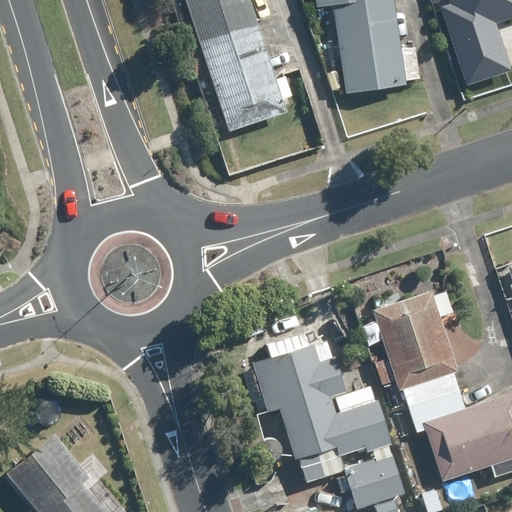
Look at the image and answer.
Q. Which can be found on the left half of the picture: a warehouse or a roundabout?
roundabout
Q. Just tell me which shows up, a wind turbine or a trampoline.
trampoline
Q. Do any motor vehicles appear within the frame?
Yes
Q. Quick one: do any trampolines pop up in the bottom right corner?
No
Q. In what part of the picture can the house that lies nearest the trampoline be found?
bottom left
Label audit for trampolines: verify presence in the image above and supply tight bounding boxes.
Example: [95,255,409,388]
[36,401,60,426]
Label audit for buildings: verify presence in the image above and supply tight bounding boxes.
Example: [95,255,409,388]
[346,446,405,512]
[424,393,512,481]
[376,360,391,384]
[364,292,458,390]
[186,0,288,131]
[252,334,391,482]
[6,435,106,512]
[442,0,512,86]
[316,0,407,93]
[422,490,442,512]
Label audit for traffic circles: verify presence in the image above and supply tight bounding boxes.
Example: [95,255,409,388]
[88,230,174,316]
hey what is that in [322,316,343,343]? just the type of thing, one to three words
car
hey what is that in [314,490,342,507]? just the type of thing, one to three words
car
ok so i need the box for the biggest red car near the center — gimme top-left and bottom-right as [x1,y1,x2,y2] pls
[212,212,238,226]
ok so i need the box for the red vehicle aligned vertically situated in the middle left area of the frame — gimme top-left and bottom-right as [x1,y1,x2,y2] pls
[64,190,77,218]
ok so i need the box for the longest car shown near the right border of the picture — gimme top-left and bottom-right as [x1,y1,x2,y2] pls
[462,384,492,404]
